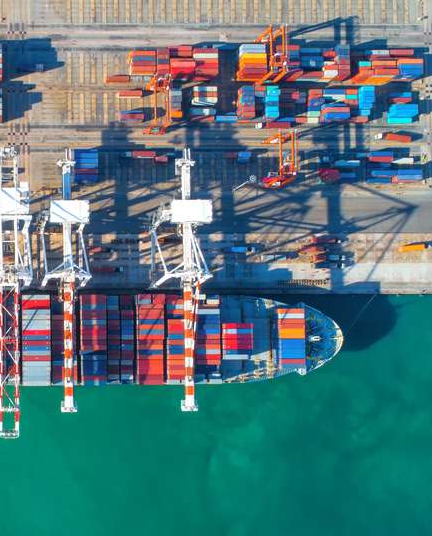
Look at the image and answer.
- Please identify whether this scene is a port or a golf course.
port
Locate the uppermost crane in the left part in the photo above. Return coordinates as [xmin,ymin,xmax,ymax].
[141,72,173,136]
